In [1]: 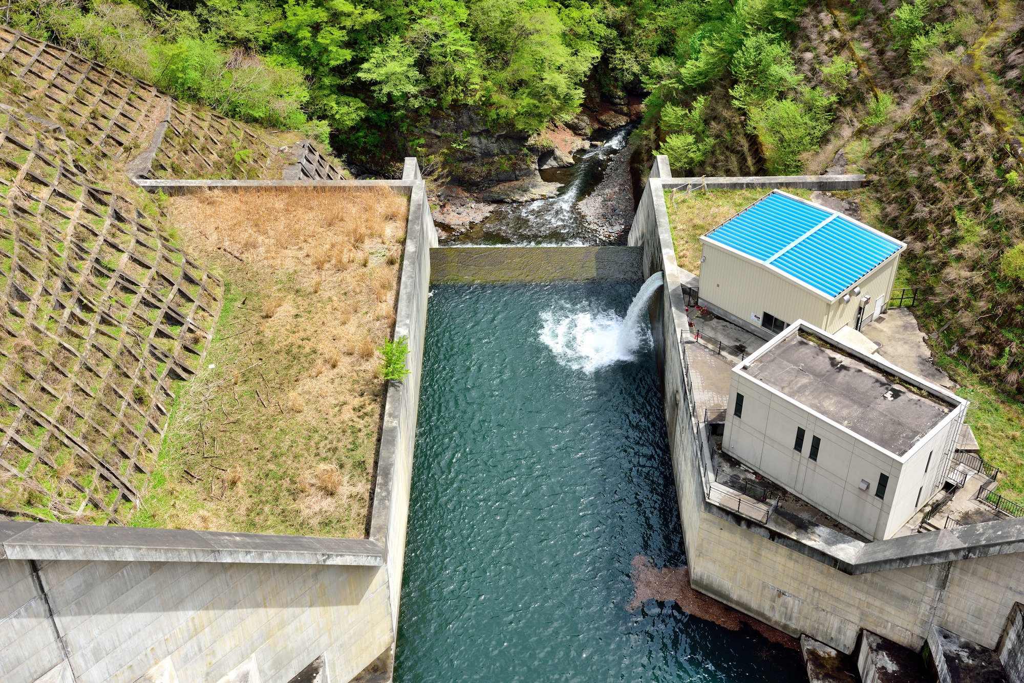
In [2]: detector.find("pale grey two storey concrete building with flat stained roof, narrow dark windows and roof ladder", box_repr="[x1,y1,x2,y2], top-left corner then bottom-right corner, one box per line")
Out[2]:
[721,321,976,542]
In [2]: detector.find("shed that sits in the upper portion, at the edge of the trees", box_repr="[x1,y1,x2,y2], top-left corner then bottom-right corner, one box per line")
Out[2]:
[699,189,909,341]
